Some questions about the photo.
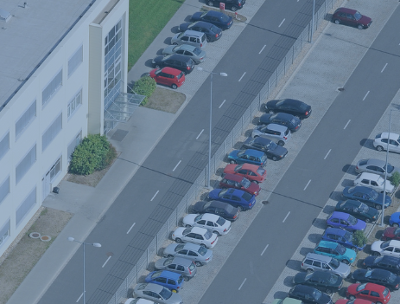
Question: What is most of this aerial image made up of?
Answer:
paved ground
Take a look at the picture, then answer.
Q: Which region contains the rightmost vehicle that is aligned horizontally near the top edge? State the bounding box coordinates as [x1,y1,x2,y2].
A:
[332,8,372,30]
